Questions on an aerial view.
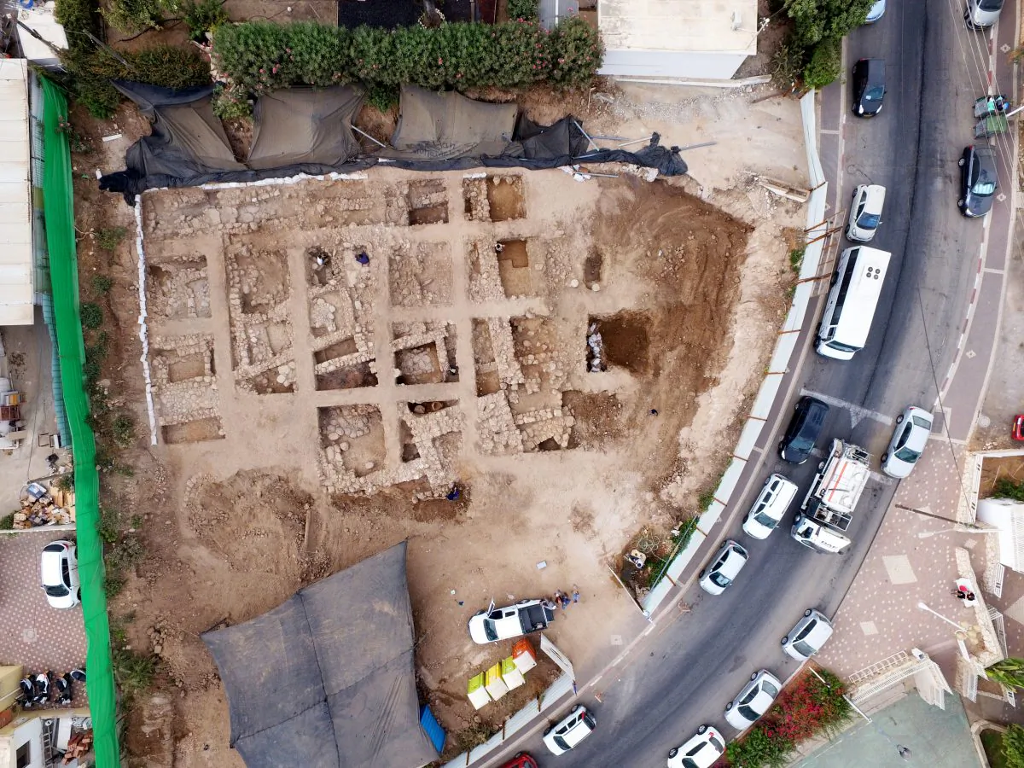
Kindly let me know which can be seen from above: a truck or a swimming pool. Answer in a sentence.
I can see a truck in this picture.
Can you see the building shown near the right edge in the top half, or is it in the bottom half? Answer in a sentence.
The building shown near the right edge is in the bottom half of the image.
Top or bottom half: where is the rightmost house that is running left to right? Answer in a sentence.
It is in the top half that the rightmost house that is running left to right appears.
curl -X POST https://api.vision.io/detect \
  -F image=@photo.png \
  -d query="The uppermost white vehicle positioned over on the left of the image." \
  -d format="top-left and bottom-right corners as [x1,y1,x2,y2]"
[37,538,81,609]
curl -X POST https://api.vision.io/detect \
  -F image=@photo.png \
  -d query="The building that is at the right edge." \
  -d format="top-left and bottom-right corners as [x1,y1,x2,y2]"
[980,494,1024,577]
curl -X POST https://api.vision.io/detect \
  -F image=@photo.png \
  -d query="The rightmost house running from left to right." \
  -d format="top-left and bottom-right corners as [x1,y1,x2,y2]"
[593,0,757,76]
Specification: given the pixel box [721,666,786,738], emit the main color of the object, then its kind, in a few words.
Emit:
white car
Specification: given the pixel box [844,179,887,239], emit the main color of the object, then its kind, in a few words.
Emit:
white car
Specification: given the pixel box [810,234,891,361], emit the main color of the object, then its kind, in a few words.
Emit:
white vehicle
